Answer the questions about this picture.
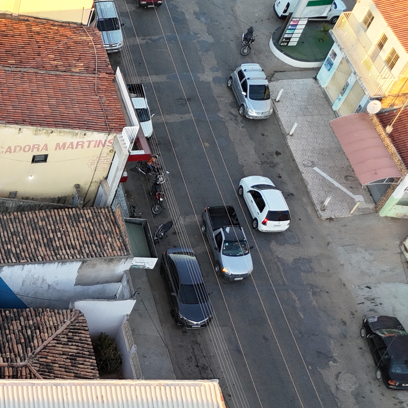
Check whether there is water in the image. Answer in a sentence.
No, there is no water in the image.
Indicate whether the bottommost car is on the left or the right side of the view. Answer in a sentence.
The bottommost car sits on the right side.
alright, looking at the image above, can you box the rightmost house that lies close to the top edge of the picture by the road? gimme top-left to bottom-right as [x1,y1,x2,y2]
[309,0,408,119]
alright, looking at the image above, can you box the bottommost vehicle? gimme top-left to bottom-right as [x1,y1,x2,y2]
[363,312,408,390]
